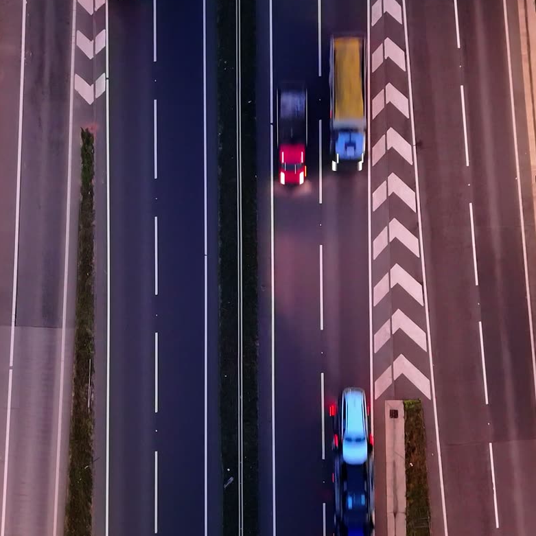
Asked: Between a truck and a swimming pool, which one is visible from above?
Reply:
truck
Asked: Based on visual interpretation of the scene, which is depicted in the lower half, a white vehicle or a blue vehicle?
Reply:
blue vehicle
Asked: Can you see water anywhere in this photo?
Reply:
No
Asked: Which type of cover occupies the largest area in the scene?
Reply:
paved ground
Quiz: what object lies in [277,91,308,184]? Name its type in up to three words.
truck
